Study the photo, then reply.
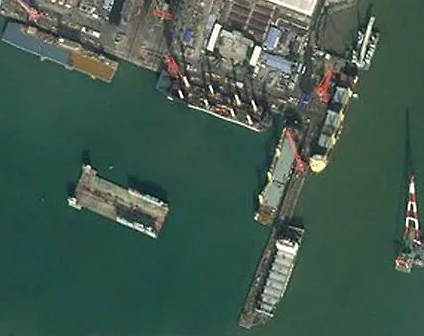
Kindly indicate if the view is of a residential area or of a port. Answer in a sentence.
What you see here is a port.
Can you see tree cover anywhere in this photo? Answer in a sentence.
No, the picture contains no tree cover.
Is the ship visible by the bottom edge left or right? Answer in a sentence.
You can find the ship visible by the bottom edge on the right side of the picture.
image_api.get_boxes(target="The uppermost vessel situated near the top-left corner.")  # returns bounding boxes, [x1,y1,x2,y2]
[2,20,119,84]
